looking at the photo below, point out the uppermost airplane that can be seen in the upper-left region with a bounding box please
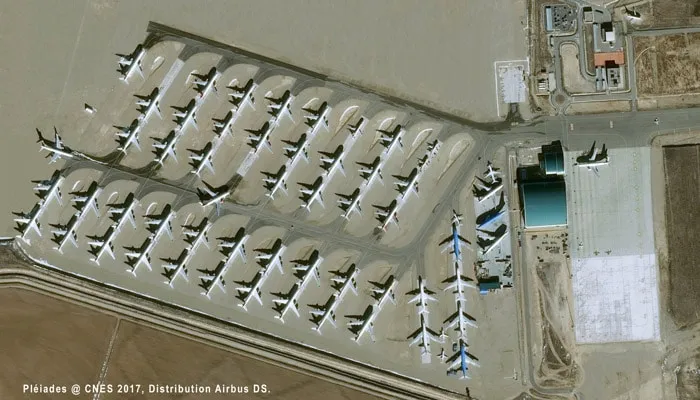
[120,53,145,81]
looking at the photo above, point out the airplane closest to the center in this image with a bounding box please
[338,194,363,222]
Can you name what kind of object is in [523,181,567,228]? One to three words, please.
hangar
